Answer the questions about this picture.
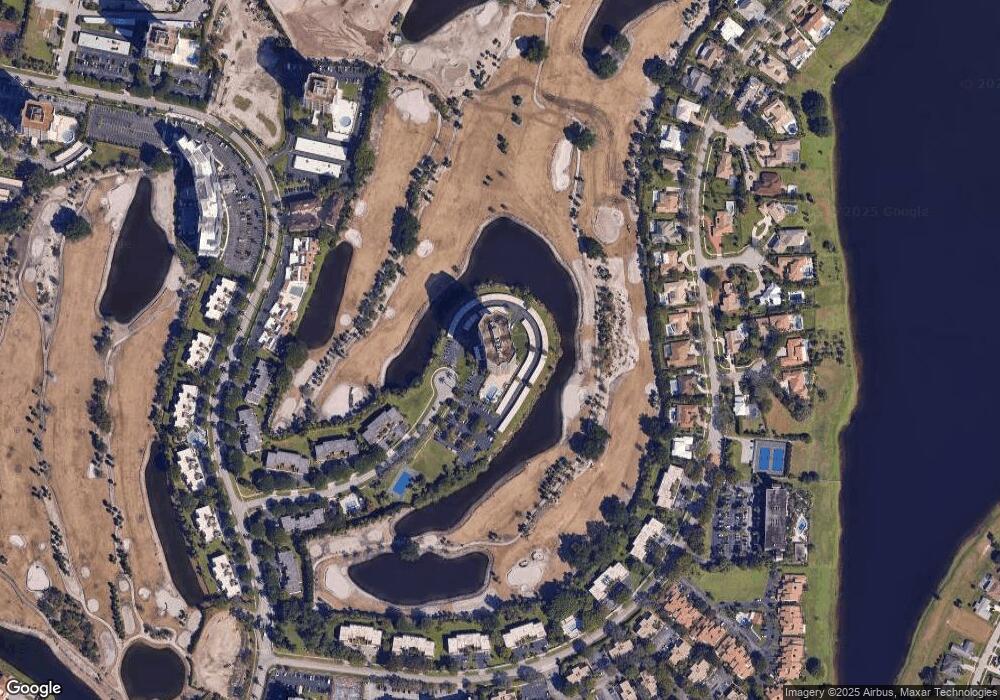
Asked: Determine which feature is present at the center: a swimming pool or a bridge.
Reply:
swimming pool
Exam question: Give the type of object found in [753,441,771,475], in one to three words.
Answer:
tennis court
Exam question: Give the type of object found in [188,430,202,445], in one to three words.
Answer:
swimming pool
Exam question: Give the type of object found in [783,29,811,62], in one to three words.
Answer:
house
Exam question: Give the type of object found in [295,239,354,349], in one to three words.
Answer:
pond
